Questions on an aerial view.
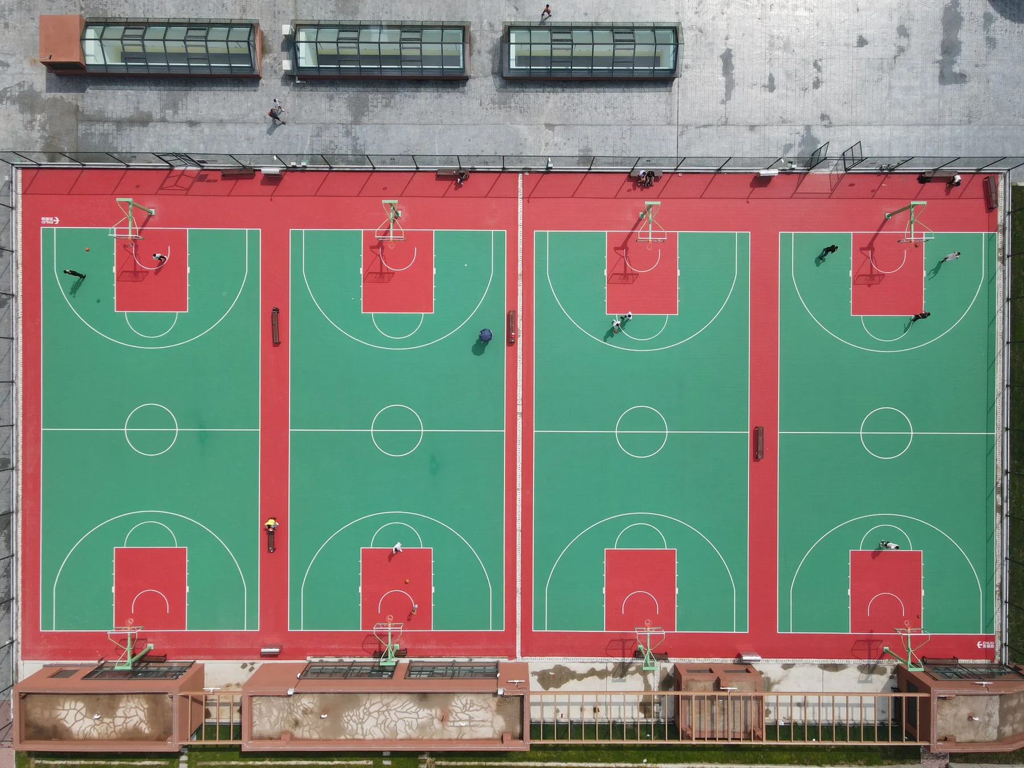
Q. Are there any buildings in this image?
Yes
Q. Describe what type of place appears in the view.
sports ground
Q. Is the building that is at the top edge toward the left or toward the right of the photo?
left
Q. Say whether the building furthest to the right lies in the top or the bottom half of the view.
bottom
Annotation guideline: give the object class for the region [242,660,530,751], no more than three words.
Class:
building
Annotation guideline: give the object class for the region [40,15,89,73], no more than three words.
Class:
building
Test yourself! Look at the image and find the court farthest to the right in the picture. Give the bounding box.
[521,173,999,659]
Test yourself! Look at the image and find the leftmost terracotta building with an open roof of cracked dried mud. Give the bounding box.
[13,661,203,751]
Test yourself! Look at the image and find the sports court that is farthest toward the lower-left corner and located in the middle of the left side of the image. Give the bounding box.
[22,169,518,660]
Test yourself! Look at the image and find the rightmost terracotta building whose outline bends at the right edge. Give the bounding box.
[899,655,1024,753]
